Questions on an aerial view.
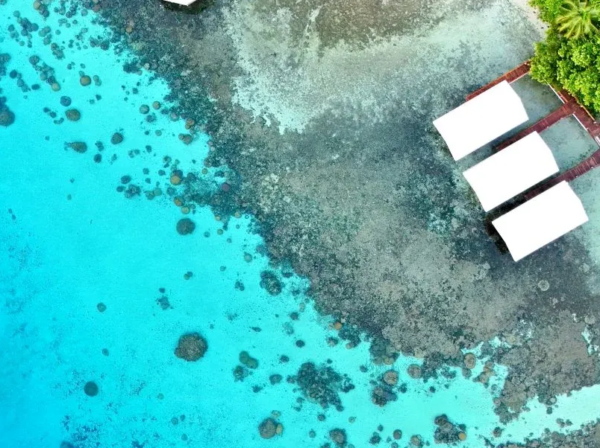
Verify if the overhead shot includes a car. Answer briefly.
No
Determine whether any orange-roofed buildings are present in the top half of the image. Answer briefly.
No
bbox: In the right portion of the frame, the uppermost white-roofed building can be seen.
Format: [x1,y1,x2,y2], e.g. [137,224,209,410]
[433,80,528,161]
